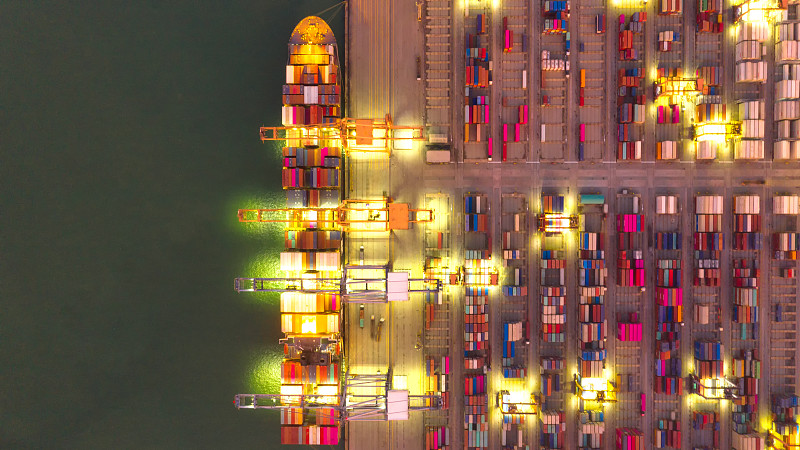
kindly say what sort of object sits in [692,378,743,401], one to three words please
container crane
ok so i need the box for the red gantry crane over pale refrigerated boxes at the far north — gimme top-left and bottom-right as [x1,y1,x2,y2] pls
[730,0,784,21]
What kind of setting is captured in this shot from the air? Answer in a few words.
port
